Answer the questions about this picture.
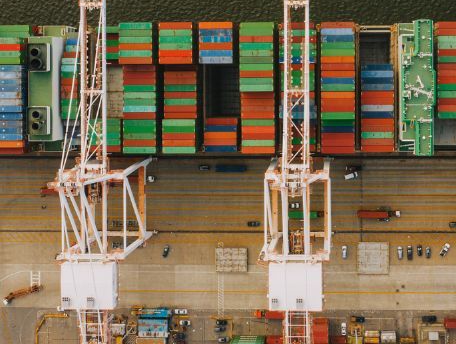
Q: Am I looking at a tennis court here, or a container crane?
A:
container crane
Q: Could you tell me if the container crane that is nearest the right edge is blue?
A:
No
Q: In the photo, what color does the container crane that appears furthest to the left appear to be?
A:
white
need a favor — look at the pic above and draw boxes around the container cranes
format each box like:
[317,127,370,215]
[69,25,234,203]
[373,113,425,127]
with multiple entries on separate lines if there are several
[259,0,339,344]
[49,0,162,344]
